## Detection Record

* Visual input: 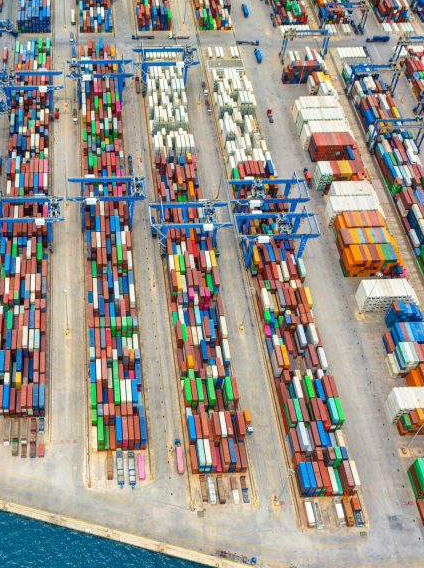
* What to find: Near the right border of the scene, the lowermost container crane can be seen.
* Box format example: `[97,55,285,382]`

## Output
[367,118,424,160]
